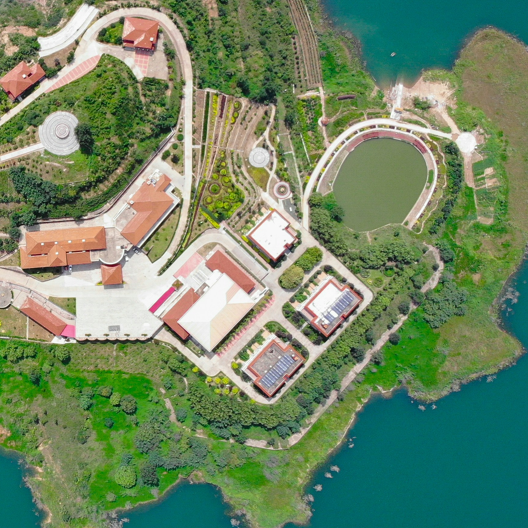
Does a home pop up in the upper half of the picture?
Yes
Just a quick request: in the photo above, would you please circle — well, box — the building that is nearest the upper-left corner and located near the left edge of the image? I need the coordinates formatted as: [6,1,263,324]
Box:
[0,61,46,100]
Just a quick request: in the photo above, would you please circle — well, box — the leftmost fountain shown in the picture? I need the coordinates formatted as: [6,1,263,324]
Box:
[273,181,291,199]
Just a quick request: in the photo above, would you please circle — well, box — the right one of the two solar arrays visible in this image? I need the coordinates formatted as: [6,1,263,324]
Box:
[324,292,353,325]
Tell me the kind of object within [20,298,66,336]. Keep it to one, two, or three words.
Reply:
building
